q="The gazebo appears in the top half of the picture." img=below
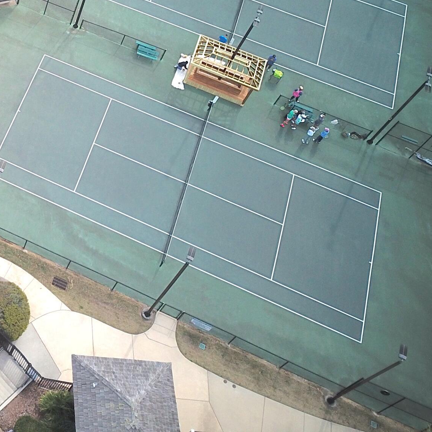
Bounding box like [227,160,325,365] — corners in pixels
[184,33,268,106]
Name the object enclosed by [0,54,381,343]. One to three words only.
tennis court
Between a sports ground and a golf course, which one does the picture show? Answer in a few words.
sports ground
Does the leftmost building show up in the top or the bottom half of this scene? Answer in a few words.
bottom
